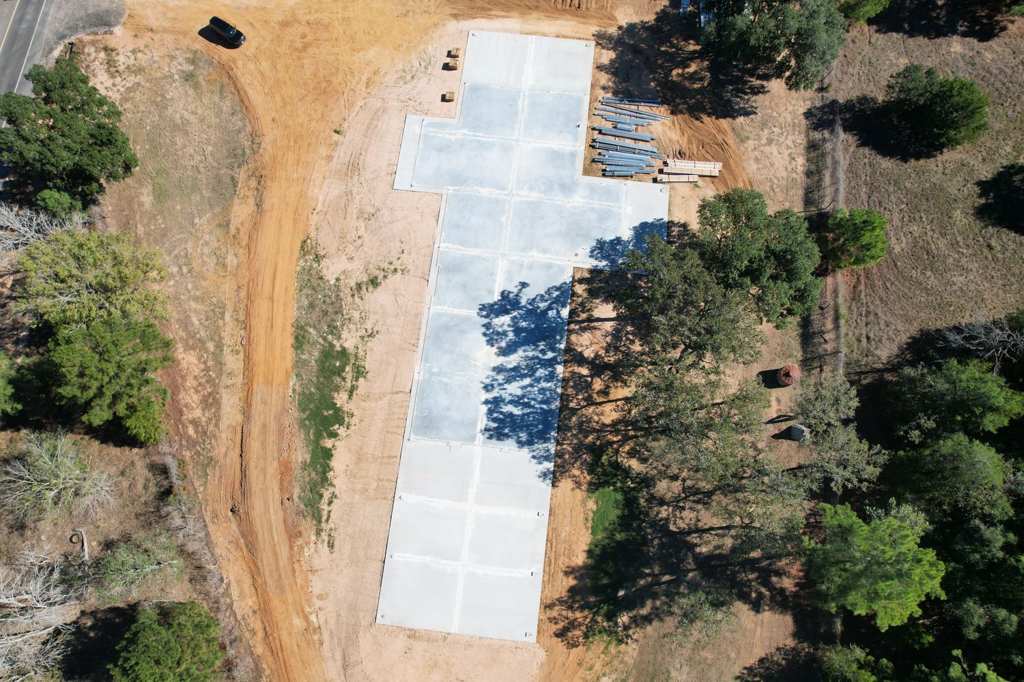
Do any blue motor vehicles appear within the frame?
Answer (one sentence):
No, there's no blue motor vehicle here.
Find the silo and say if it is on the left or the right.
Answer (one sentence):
The silo is on the right side of the image.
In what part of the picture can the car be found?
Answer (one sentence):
The car is in the top left part of the image.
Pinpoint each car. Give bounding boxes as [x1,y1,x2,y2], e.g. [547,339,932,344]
[206,15,247,47]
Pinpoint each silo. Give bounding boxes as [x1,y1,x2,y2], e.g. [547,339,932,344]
[777,364,804,387]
